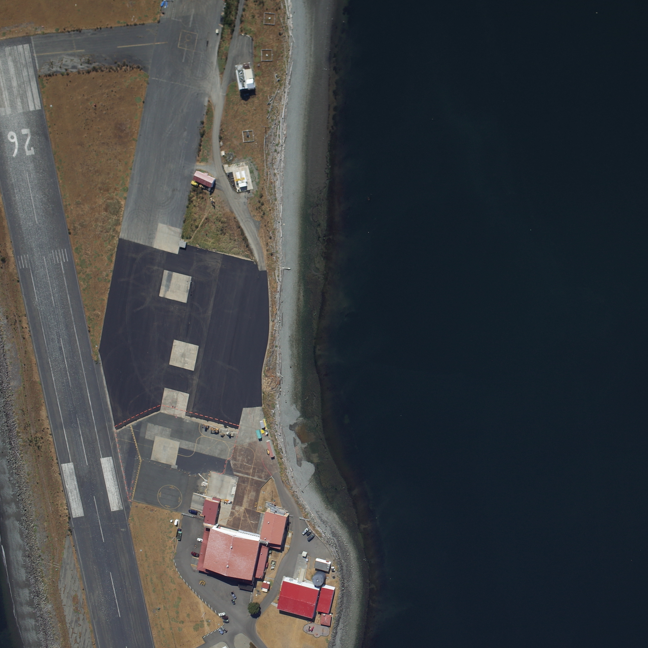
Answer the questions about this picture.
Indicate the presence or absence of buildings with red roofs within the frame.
Yes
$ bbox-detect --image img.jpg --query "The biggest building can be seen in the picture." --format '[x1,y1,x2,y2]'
[197,518,269,580]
